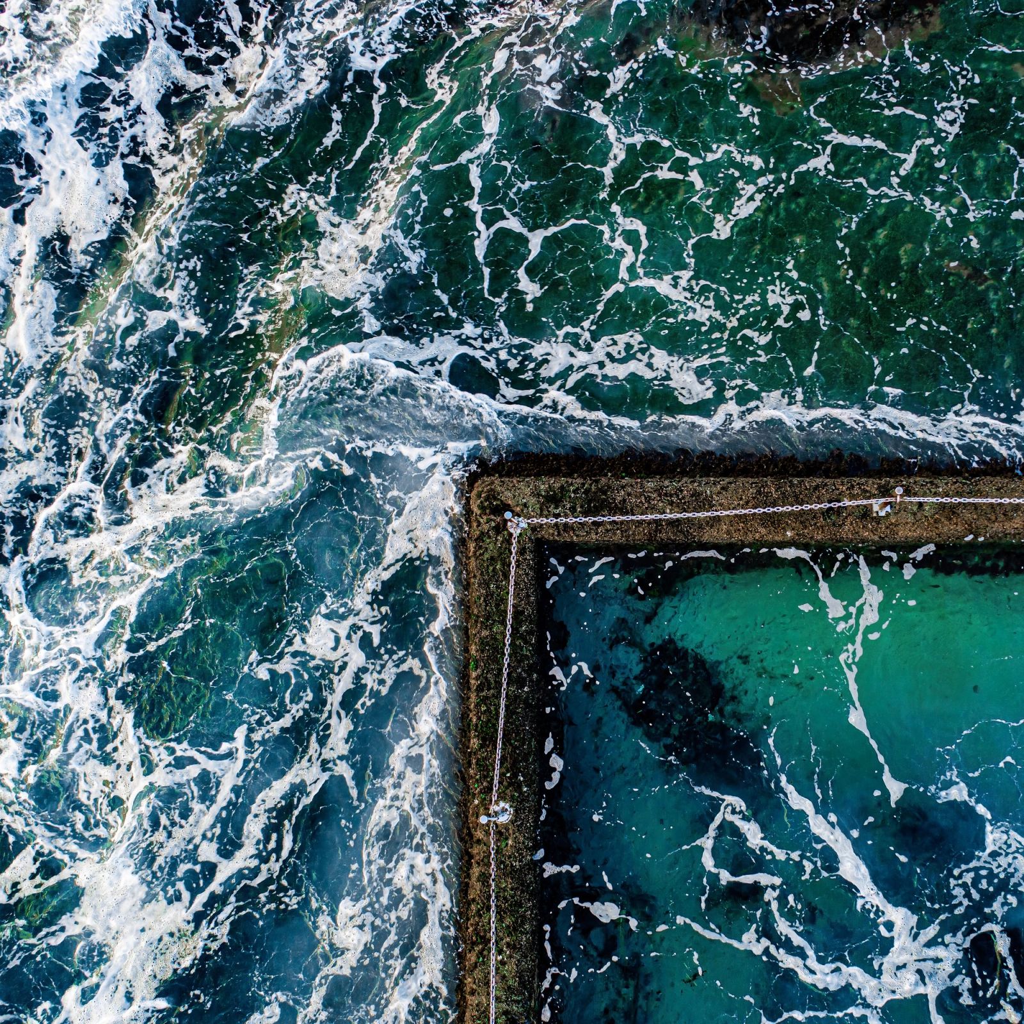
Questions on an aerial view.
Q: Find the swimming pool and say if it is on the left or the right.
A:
right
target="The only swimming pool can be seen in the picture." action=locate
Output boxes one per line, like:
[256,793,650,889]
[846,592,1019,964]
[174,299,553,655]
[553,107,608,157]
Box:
[538,544,1024,1024]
